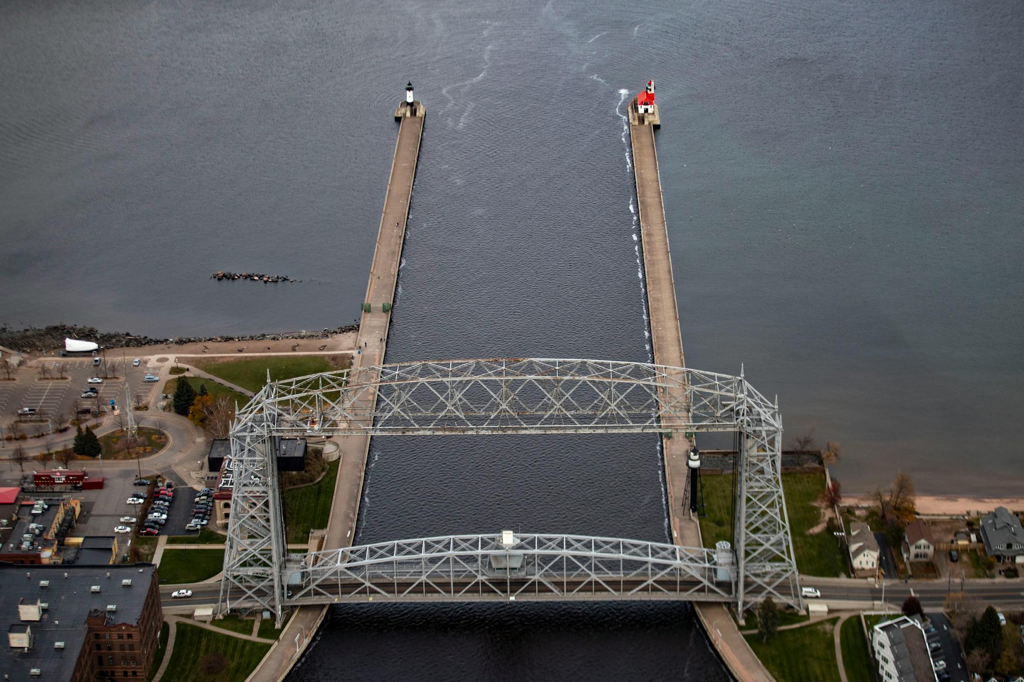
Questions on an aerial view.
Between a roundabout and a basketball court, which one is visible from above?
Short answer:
roundabout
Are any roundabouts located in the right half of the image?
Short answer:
No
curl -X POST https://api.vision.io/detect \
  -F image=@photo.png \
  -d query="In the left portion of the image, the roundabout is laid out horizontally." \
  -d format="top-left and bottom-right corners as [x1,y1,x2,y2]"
[82,418,192,469]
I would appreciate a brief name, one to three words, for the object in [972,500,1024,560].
house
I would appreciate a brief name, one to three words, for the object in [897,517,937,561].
house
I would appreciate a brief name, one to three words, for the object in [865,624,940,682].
building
